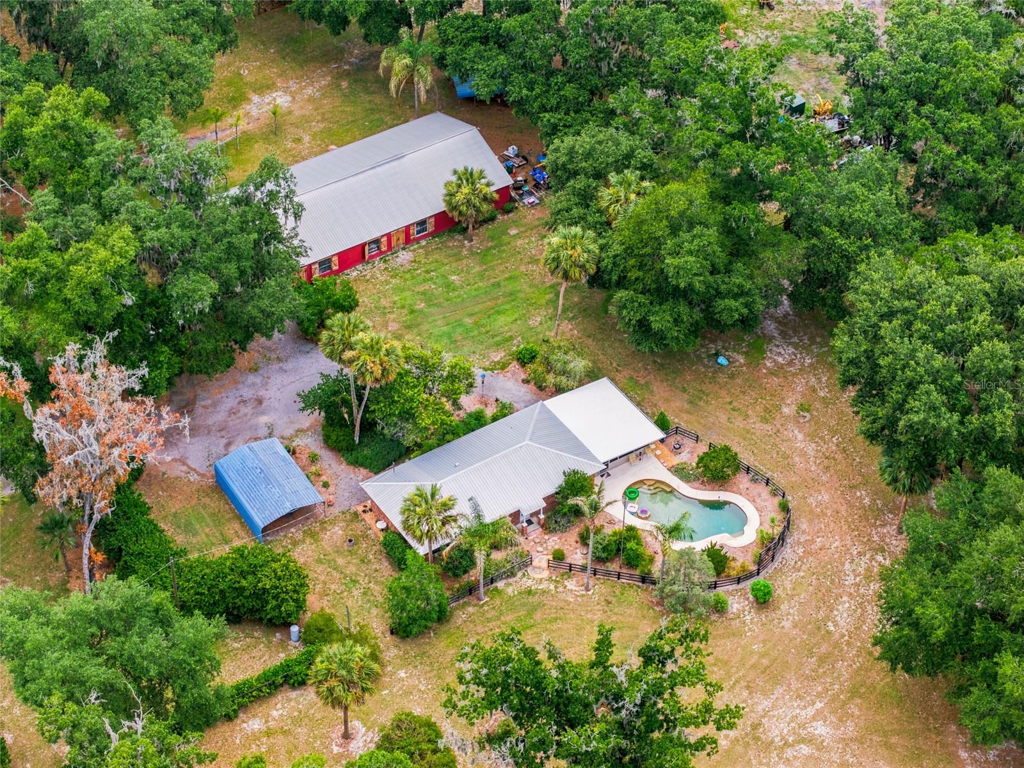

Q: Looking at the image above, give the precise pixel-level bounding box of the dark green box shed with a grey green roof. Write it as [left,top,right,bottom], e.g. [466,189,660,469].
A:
[785,90,811,122]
